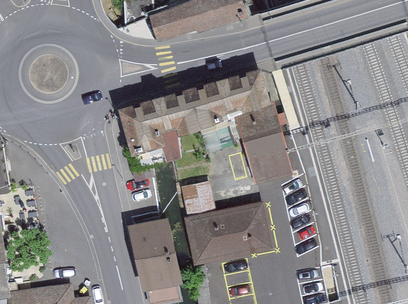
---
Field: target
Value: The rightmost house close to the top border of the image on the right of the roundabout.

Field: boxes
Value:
[148,0,250,41]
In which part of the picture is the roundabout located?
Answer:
top left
